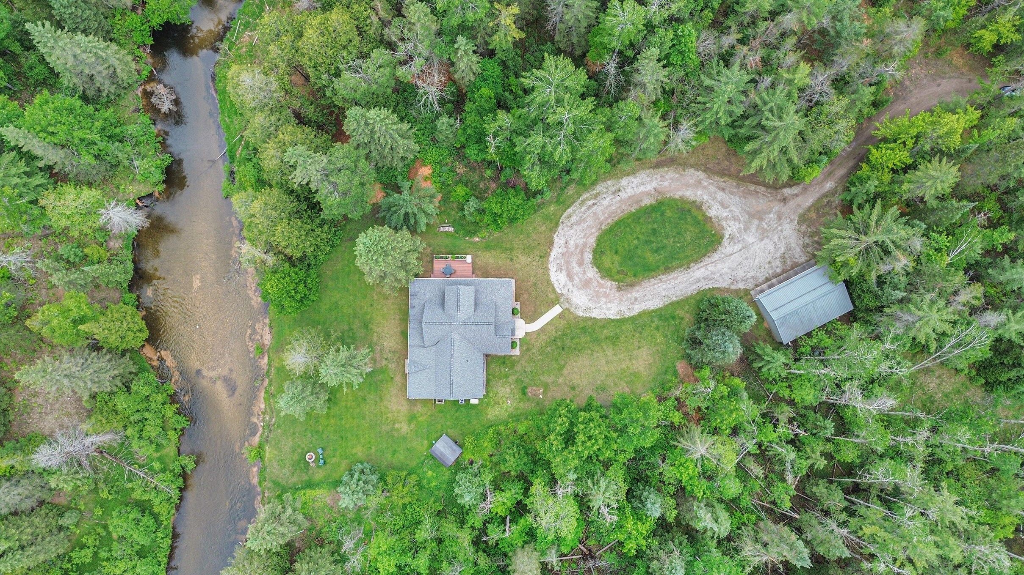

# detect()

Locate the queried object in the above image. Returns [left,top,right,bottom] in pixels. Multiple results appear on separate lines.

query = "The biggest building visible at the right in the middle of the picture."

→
[748,260,854,345]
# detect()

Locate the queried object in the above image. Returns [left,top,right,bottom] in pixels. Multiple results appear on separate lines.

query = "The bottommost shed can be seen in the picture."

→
[429,434,462,470]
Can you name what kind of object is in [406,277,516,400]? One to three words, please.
house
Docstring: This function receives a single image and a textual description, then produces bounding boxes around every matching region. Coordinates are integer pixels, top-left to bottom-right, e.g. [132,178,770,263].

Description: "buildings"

[429,434,462,470]
[748,260,854,345]
[406,277,516,400]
